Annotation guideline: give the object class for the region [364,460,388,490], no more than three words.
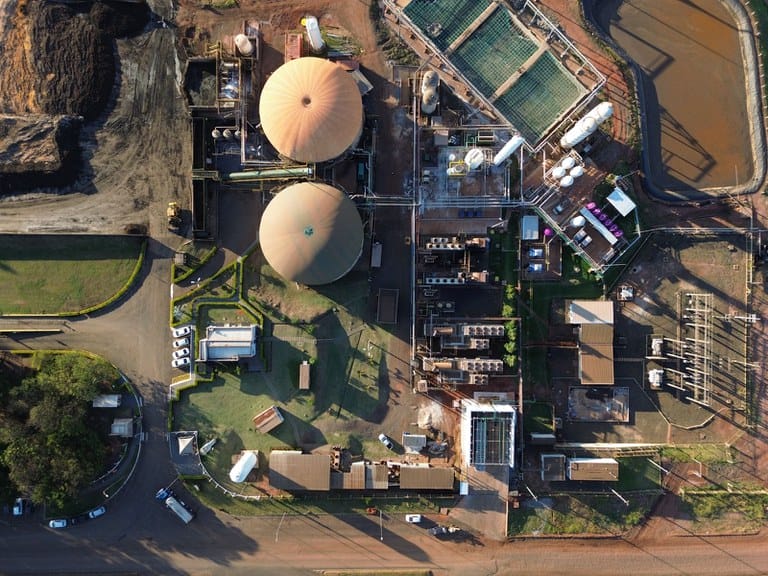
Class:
shed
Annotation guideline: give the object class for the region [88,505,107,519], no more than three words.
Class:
car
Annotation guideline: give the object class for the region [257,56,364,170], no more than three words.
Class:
storage tank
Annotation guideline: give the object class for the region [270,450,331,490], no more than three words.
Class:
building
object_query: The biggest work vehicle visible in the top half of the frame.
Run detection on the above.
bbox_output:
[167,202,182,231]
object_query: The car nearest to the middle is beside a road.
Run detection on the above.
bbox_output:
[378,430,394,448]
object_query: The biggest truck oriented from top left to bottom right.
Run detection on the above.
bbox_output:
[152,483,195,524]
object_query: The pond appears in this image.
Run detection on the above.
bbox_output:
[581,0,762,202]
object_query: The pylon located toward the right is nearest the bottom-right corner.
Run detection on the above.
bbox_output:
[730,358,761,373]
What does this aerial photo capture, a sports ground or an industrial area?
industrial area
